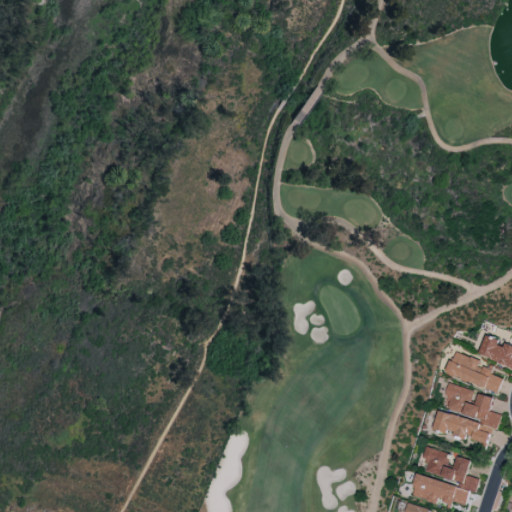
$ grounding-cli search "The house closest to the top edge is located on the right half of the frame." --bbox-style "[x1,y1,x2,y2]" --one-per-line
[482,331,512,362]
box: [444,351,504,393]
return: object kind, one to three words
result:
house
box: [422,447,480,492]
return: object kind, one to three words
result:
house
